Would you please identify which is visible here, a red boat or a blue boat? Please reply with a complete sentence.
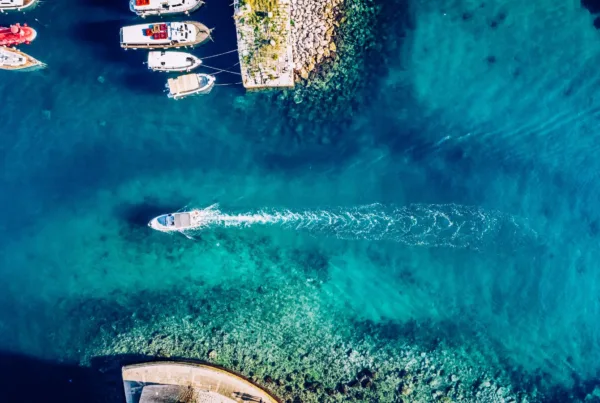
Looking from above, you can make out a red boat.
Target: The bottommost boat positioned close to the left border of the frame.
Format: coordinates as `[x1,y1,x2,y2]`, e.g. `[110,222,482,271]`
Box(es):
[0,47,47,74]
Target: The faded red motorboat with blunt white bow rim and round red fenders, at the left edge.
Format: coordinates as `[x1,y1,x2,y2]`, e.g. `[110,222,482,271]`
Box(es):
[0,23,39,48]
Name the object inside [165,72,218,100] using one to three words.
boat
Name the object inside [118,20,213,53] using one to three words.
boat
